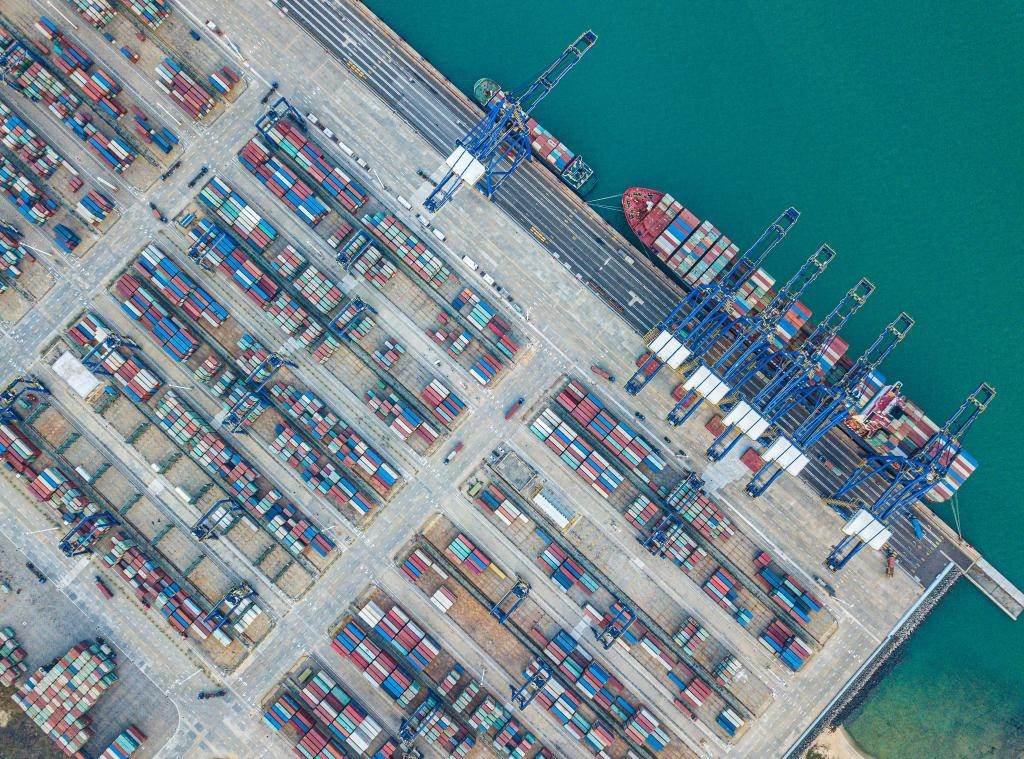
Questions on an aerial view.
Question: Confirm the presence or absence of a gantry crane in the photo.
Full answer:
Yes, the photo shows a gantry crane.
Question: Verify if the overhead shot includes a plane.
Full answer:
No, the picture doesn't show any plane.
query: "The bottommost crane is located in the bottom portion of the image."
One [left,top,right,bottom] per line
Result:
[396,687,443,744]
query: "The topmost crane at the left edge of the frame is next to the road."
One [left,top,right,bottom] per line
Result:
[0,39,47,94]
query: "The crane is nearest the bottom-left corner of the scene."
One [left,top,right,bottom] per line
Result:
[58,509,119,557]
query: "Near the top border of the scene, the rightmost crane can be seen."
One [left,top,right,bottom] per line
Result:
[422,29,595,210]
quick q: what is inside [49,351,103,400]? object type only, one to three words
shed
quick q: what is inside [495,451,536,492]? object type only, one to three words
building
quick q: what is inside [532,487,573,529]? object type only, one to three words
shed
